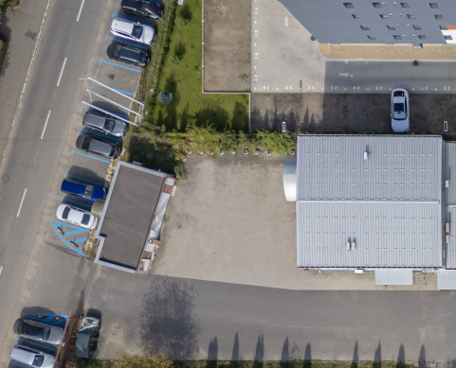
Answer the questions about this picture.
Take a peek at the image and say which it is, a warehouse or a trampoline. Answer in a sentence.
It is a warehouse that can be seen here.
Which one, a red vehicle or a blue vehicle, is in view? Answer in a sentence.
Of the two, only a blue vehicle appears.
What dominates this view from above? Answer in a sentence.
Most of the picture is covered by paved ground.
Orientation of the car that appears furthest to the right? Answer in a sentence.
In this picture, the car that appears furthest to the right lies vertically.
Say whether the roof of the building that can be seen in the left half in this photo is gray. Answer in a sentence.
Yes, gray is the color of the roof of the building that can be seen in the left half.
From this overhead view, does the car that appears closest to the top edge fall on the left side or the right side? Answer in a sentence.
The car that appears closest to the top edge appears in the left half of the scene.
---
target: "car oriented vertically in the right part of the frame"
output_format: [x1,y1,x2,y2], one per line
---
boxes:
[389,88,410,132]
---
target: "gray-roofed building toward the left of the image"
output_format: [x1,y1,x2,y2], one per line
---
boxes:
[95,161,179,274]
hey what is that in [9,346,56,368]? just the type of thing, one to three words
car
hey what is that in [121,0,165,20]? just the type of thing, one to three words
car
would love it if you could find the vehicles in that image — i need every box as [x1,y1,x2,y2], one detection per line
[108,41,150,67]
[82,111,128,135]
[73,313,102,360]
[78,133,121,158]
[110,18,155,45]
[58,175,108,202]
[9,346,56,368]
[121,0,165,20]
[15,319,65,344]
[55,203,99,229]
[389,88,410,132]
